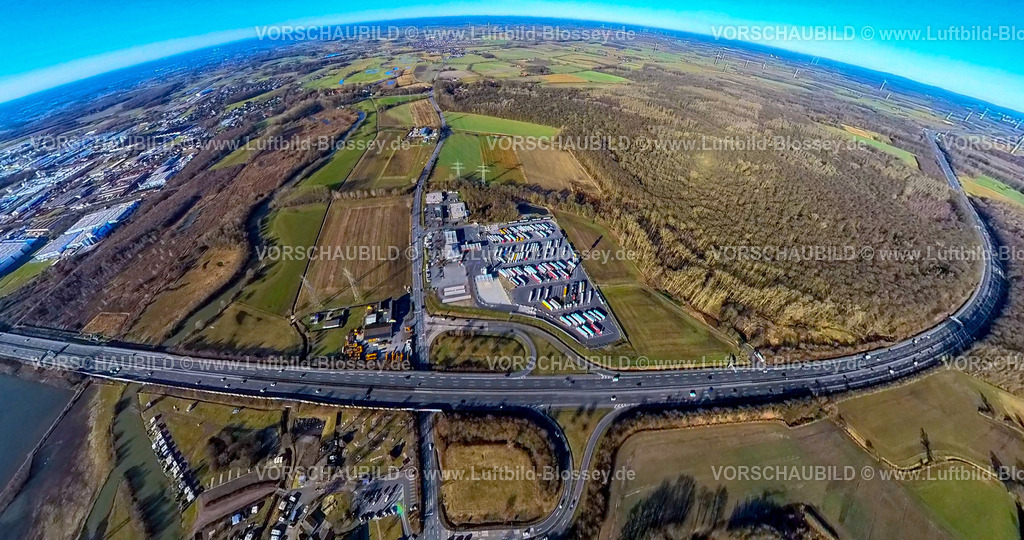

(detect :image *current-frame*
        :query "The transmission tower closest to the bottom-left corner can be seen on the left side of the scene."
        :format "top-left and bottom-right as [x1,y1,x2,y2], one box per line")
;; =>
[301,273,322,307]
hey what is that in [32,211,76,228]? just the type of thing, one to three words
building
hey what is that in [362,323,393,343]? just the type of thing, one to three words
barn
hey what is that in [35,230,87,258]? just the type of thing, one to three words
building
